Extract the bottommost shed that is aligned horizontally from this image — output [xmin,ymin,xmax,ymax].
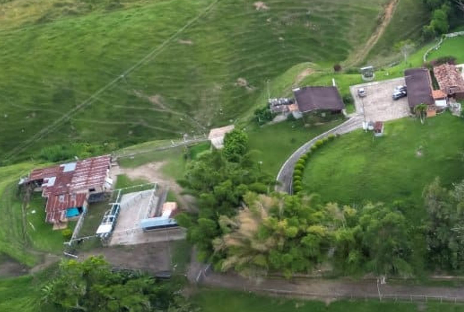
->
[141,213,183,236]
